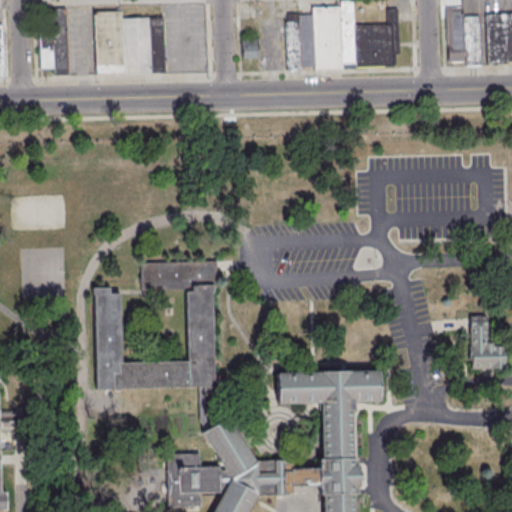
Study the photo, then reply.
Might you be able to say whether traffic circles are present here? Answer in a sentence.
No, I can't see a single traffic circle in this photo.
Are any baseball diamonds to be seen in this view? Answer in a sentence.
No, there isn't any baseball diamond down there.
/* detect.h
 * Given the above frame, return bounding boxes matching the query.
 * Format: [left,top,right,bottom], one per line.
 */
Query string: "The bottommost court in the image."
[21,248,64,299]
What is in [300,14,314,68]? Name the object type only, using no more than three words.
building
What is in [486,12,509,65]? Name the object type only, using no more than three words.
building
